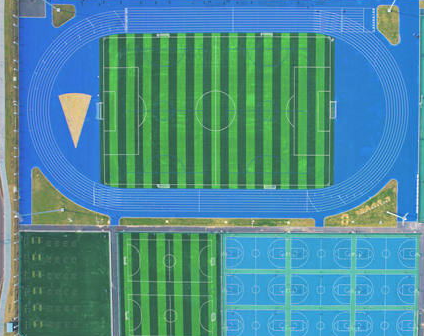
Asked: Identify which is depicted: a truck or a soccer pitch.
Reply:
soccer pitch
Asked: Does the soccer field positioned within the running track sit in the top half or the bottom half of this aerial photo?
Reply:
top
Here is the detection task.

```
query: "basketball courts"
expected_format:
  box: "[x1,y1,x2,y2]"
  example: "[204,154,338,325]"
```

[355,311,413,336]
[355,274,415,306]
[227,310,285,336]
[226,274,285,305]
[291,310,350,336]
[225,237,285,269]
[355,237,416,270]
[291,274,350,306]
[290,237,351,269]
